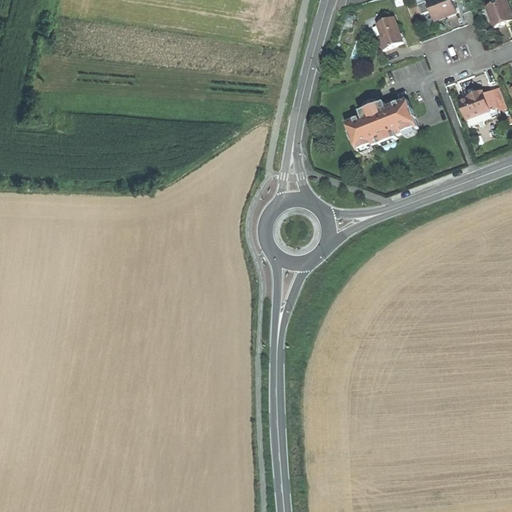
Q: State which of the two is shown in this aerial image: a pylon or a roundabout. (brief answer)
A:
roundabout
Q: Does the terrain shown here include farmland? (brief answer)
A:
Yes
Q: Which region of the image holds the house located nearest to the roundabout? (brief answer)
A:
top right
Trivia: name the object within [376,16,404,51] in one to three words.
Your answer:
house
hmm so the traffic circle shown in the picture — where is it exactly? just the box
[252,126,384,350]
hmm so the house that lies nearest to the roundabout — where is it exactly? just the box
[344,98,420,155]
